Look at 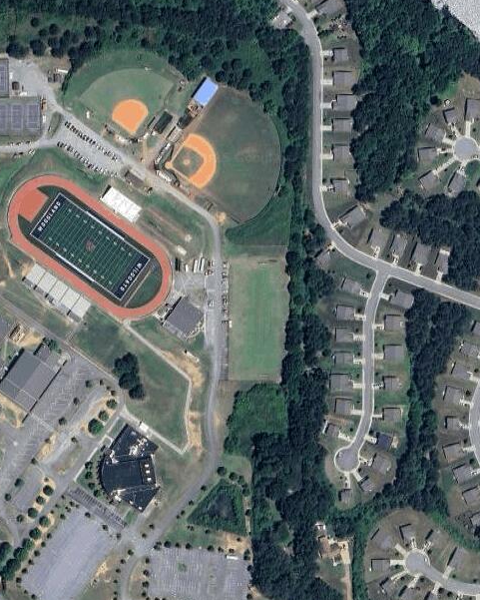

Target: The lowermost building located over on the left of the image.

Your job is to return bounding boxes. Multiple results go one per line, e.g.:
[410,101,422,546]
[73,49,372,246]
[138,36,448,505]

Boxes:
[99,425,158,513]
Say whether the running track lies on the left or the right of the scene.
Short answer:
left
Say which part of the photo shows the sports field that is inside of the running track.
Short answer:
left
